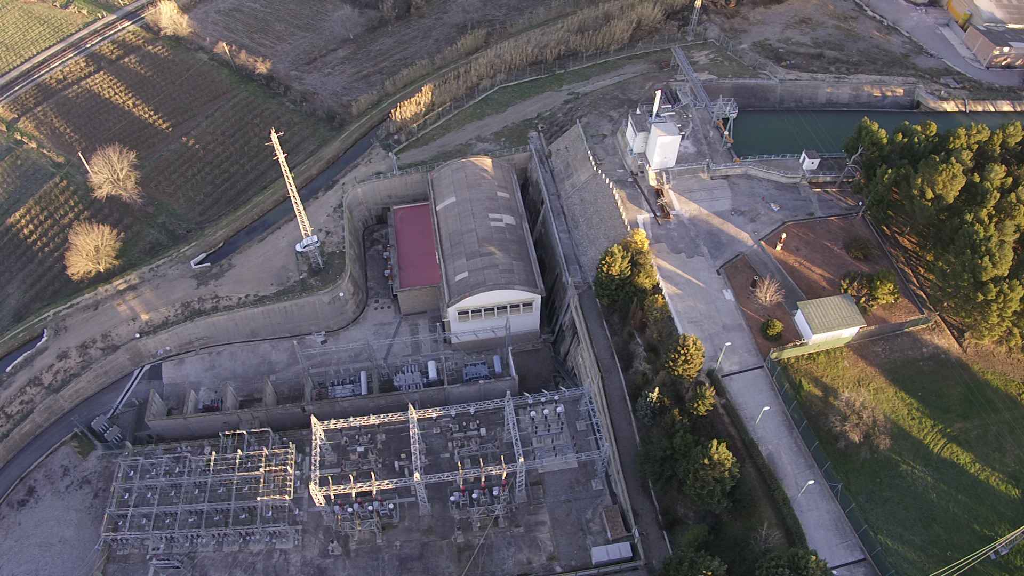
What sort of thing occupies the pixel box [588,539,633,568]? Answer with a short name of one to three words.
shipping container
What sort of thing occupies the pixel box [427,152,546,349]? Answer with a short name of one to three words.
building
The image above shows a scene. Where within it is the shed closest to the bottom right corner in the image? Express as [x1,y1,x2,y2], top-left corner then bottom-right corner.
[794,293,867,342]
